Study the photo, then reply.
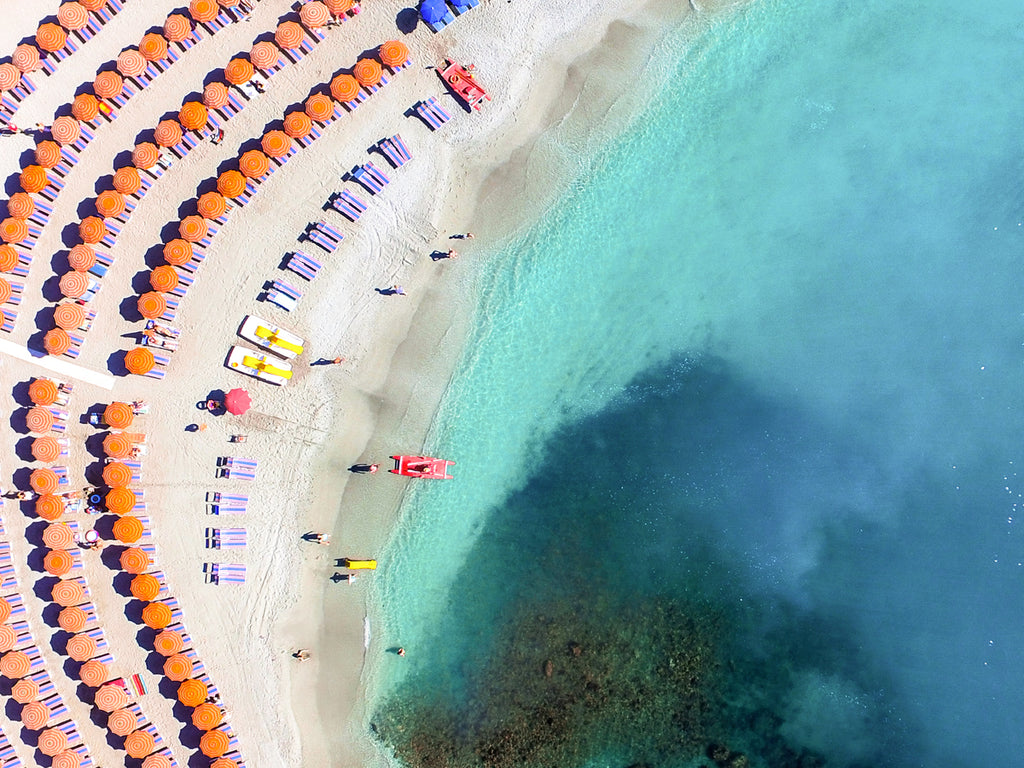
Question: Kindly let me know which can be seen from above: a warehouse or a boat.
boat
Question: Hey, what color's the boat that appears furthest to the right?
red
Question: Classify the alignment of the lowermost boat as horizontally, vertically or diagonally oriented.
horizontally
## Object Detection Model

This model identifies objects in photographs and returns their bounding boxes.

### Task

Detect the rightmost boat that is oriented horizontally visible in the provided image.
[388,454,455,481]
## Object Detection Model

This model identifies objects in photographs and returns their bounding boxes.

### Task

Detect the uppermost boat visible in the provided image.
[433,60,492,113]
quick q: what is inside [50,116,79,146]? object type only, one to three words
umbrella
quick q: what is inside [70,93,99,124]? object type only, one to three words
umbrella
